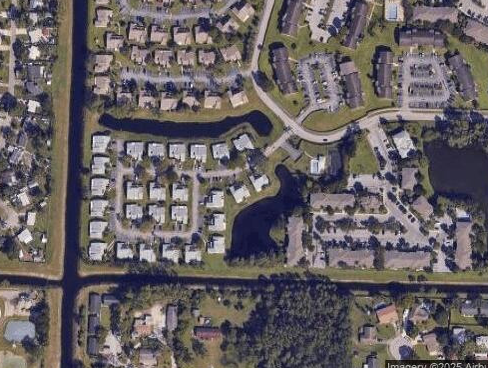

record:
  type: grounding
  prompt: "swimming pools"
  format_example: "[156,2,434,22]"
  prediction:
[310,158,319,175]
[386,0,405,22]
